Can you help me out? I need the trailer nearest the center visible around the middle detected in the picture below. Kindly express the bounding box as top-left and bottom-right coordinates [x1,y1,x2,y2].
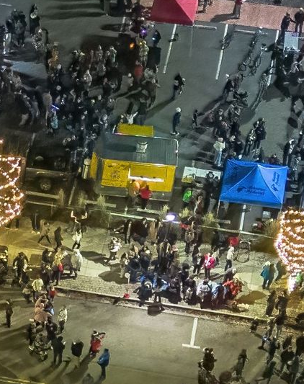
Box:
[79,115,180,212]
